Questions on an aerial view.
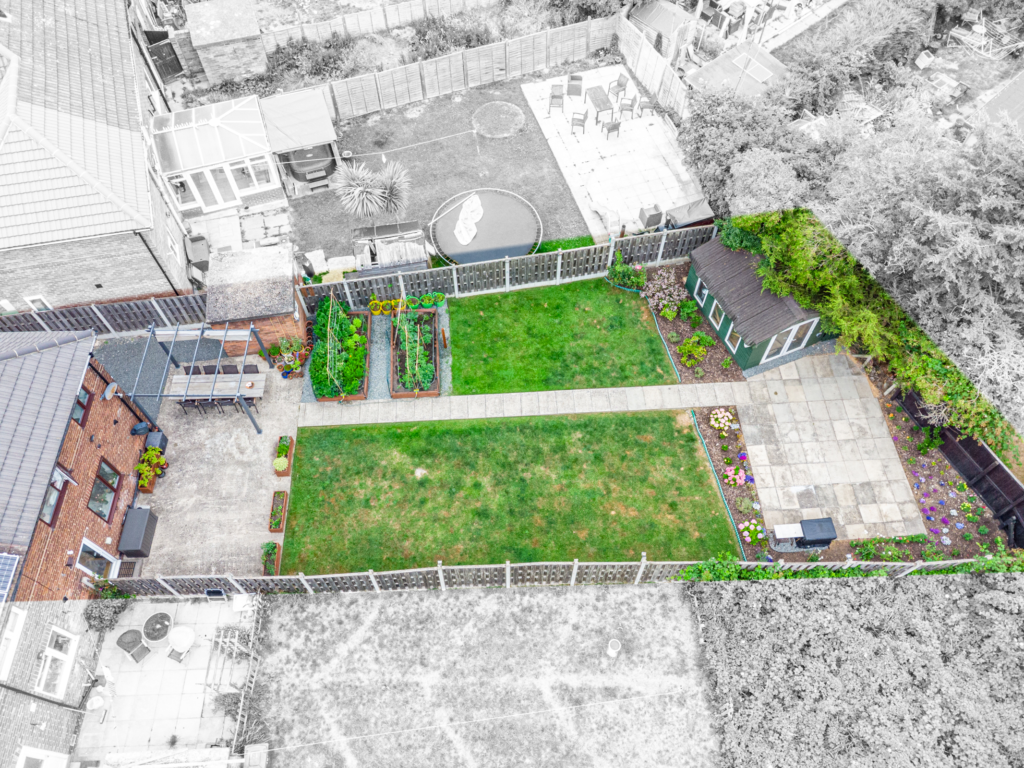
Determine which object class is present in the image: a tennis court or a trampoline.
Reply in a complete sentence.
I can see a trampoline in this picture.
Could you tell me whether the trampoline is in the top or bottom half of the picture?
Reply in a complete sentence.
It is in the top half that the trampoline appears.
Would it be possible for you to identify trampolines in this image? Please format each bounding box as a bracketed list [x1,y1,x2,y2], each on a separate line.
[430,189,543,266]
